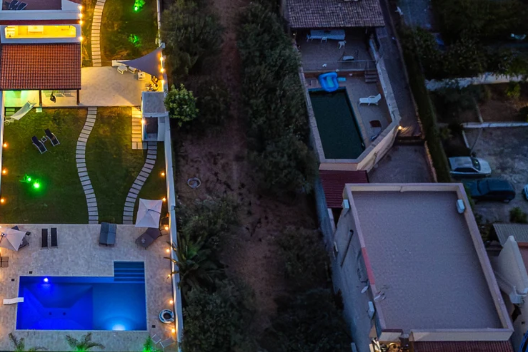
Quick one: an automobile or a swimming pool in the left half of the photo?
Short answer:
swimming pool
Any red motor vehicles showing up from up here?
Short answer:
No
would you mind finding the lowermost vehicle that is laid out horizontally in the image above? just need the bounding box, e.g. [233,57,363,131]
[464,177,519,203]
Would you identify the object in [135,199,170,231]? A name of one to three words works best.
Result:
umbrella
